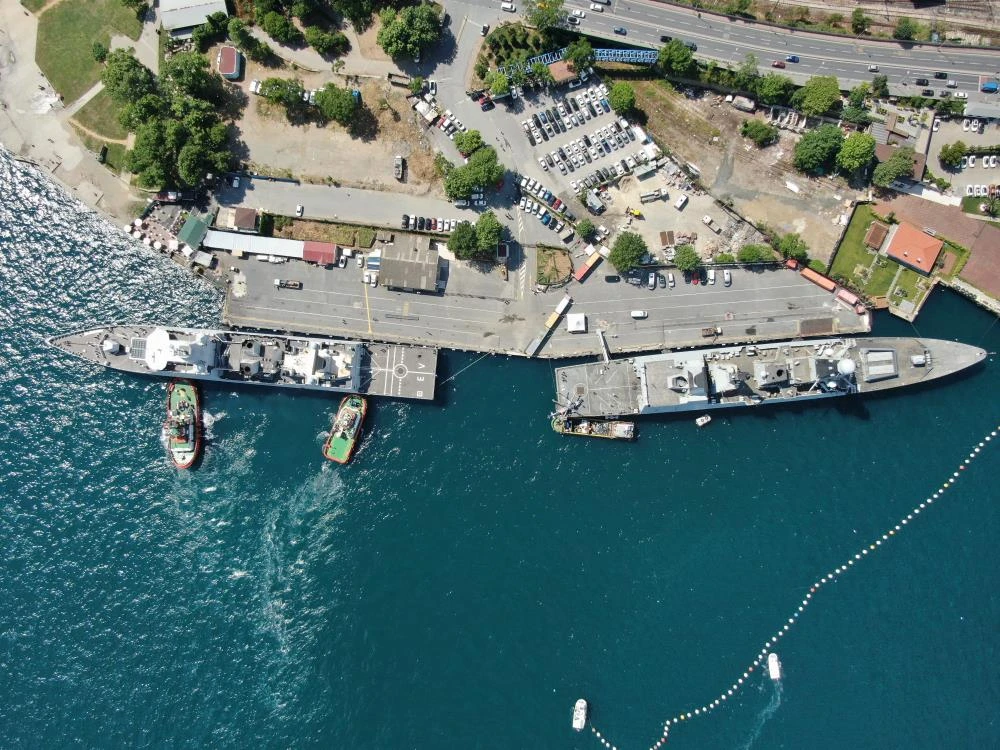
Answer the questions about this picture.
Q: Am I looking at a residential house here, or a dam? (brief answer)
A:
residential house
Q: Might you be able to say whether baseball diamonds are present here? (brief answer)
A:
No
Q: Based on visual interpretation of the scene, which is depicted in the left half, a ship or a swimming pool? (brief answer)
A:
ship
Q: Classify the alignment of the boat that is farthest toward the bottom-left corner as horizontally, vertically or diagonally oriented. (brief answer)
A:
vertically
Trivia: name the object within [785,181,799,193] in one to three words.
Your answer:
vehicle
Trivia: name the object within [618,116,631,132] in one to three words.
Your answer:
vehicle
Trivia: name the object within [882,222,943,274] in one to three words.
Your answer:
house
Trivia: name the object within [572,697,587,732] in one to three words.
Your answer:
boat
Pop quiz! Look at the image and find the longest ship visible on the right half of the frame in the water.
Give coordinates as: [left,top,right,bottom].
[554,337,994,419]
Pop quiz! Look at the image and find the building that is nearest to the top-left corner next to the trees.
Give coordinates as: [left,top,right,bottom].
[160,0,233,38]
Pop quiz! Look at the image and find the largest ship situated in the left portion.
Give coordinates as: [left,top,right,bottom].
[45,324,439,401]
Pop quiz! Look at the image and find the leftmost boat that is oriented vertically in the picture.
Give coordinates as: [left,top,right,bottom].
[165,378,201,469]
